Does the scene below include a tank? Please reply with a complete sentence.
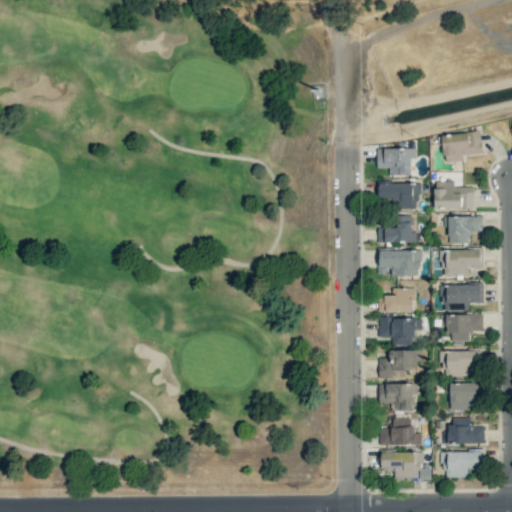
No, the photo shows no tank.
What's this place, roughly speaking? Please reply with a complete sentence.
What you see here is a golf course.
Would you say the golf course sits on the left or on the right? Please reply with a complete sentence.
The golf course appears in the left half of the scene.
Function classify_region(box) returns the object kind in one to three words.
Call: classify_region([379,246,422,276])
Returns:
house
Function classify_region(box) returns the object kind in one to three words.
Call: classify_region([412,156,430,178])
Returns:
swimming pool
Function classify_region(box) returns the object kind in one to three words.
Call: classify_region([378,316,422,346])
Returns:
house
